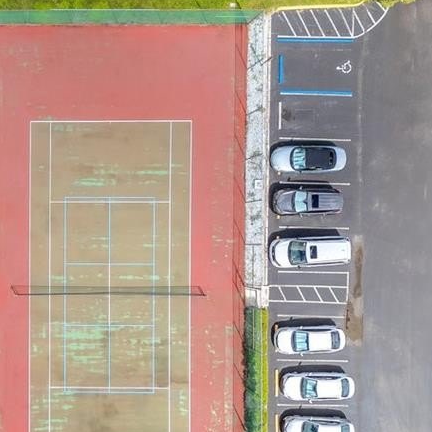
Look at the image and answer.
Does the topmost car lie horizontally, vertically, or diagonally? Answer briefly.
horizontally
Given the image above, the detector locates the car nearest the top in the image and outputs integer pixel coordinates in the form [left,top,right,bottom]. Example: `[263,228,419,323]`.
[269,141,346,176]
